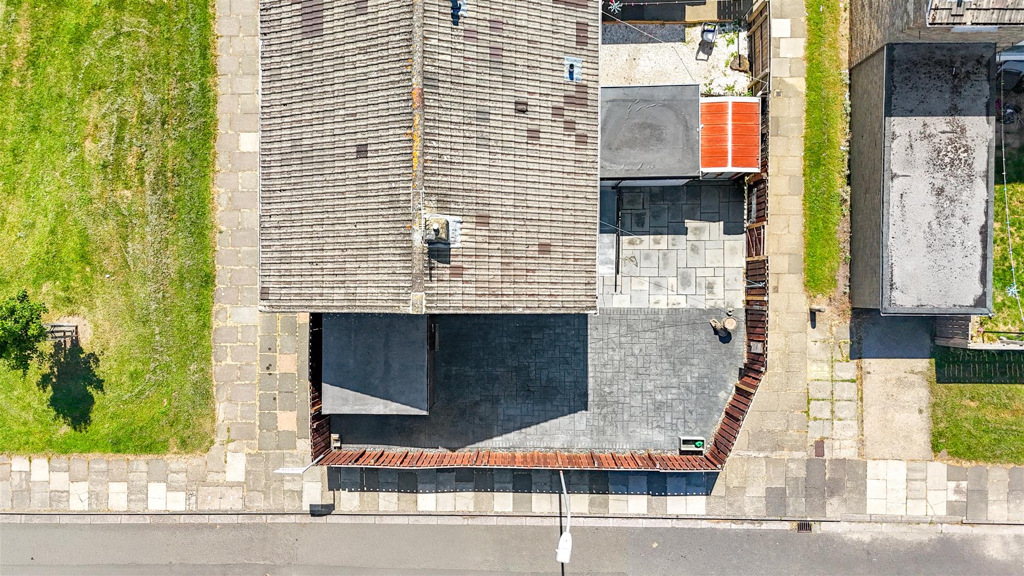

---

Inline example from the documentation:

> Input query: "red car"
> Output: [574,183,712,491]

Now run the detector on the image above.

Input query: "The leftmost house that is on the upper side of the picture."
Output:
[257,0,602,317]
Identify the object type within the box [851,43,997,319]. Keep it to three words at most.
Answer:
building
